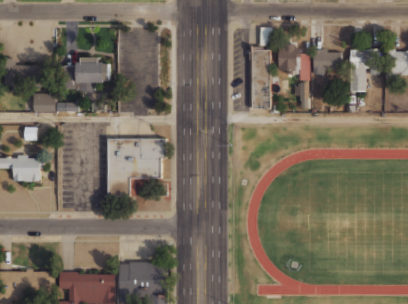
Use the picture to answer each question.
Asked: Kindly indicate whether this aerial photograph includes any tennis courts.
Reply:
No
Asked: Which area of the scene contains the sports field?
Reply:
bottom right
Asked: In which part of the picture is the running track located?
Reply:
bottom right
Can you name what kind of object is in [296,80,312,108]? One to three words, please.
shed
